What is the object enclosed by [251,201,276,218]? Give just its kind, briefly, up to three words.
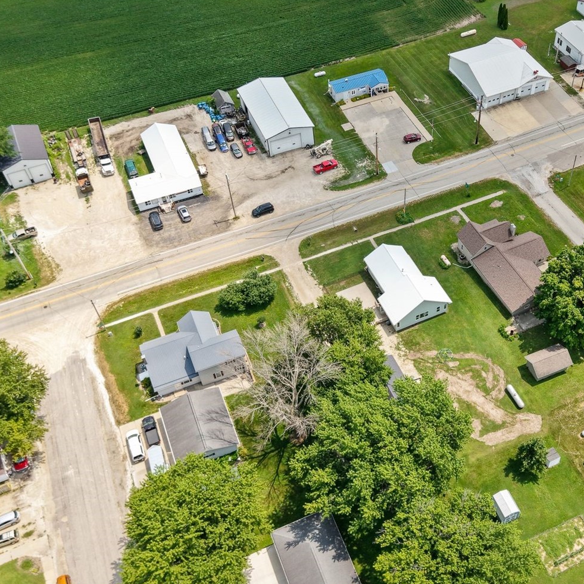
car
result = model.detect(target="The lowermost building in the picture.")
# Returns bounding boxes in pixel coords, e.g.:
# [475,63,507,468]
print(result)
[273,510,364,584]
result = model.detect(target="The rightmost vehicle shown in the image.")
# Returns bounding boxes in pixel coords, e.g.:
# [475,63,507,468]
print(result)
[402,132,423,145]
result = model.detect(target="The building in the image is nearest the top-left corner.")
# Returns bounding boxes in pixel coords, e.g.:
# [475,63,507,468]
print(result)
[0,122,52,181]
